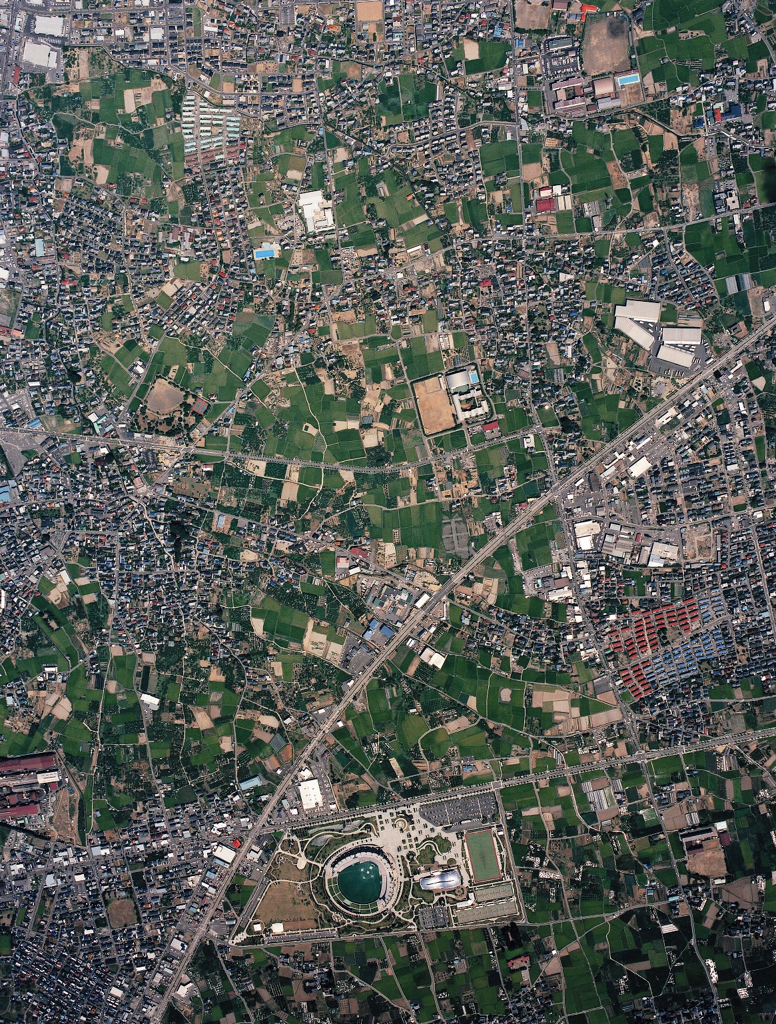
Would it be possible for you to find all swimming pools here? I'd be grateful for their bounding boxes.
[469,370,479,384]
[616,71,640,89]
[254,243,281,260]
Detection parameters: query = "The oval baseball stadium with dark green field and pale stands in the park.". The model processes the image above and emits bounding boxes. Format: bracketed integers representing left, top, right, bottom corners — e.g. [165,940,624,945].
[326,852,393,917]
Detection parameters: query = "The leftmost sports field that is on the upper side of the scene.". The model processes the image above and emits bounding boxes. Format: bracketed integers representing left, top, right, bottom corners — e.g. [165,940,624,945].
[147,378,185,413]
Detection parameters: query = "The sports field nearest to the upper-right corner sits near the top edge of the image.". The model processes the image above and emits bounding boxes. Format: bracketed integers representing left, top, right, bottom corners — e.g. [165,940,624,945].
[583,13,631,73]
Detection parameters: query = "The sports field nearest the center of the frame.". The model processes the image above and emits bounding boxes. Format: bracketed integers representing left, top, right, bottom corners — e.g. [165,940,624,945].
[413,377,455,434]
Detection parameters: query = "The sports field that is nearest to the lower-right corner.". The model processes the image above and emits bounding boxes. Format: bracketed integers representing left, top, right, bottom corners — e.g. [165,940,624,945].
[686,849,727,877]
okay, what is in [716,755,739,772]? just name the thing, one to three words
greenhouse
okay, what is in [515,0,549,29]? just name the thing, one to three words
sports field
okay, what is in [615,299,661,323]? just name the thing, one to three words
building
